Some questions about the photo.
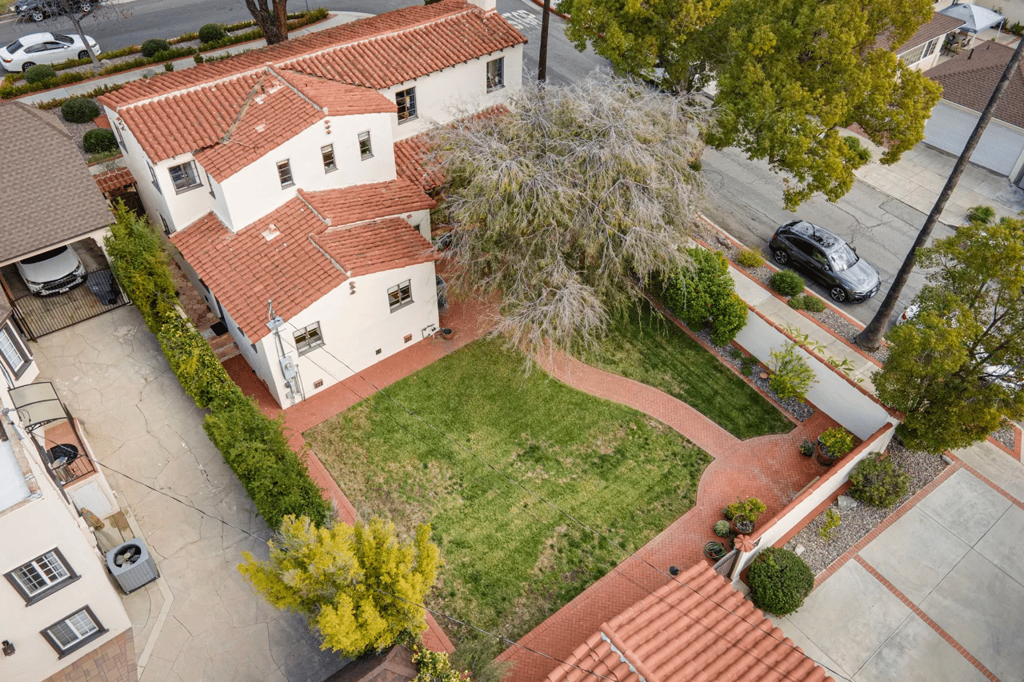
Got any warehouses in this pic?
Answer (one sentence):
No, the picture doesn't show any warehouse.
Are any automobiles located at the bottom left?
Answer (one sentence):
No, no automobile is visible at the bottom left.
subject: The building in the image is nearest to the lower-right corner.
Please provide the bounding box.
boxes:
[540,560,836,682]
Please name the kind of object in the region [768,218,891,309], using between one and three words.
car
